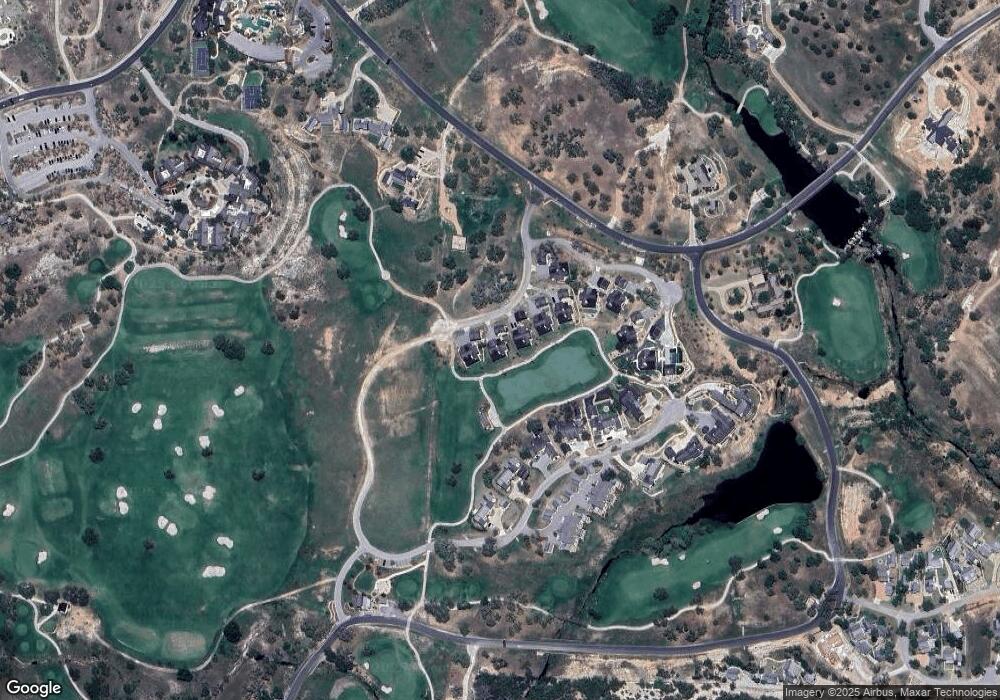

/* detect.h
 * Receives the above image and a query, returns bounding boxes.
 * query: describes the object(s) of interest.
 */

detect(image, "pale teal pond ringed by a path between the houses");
[498,347,598,412]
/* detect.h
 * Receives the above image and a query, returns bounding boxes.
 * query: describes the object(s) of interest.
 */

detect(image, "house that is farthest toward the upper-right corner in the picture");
[925,106,958,150]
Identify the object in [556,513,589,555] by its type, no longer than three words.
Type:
building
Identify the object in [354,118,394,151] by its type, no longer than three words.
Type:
house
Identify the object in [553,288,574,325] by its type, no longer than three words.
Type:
house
